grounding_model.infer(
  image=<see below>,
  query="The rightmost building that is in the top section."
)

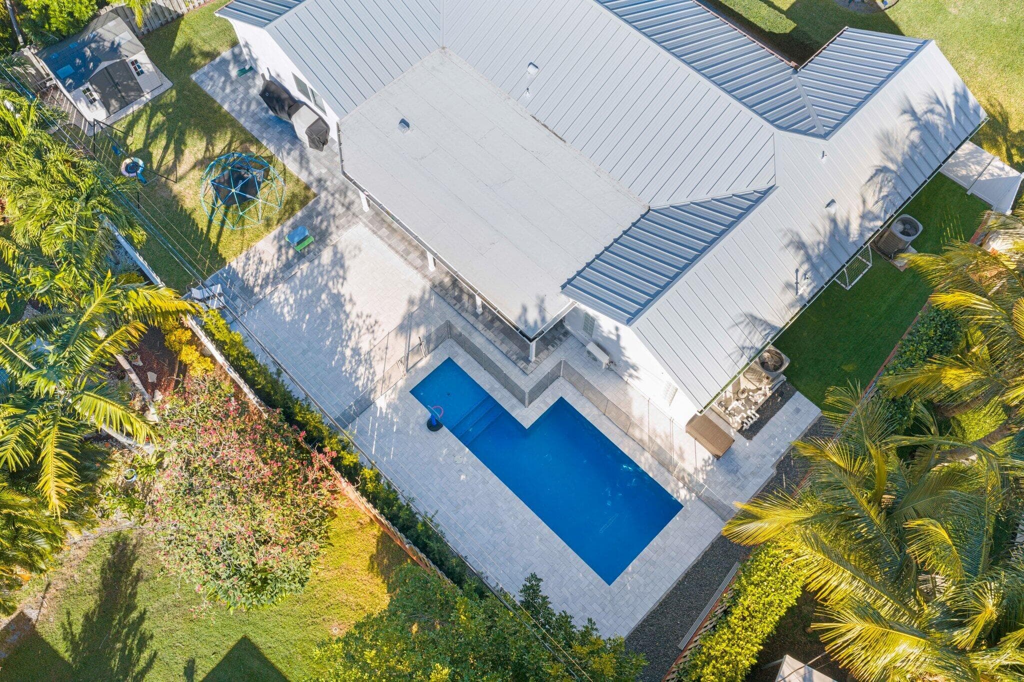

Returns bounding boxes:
[215,0,990,431]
